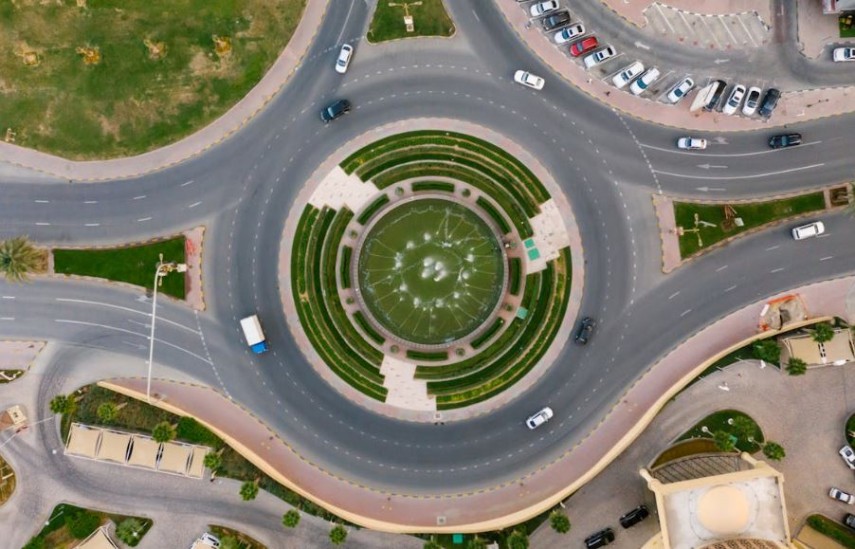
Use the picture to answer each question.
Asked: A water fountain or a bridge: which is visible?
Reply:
water fountain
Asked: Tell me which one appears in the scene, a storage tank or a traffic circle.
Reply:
traffic circle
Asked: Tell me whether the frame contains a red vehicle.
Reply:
Yes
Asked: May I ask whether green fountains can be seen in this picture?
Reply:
Yes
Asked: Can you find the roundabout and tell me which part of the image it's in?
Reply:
center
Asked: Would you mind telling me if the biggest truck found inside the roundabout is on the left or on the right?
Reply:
left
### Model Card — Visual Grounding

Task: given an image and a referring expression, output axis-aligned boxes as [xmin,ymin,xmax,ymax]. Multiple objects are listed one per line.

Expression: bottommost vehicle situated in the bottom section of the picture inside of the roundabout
[524,406,554,431]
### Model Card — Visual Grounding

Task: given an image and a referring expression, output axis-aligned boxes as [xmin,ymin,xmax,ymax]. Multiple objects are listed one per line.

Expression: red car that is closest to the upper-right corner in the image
[568,35,600,58]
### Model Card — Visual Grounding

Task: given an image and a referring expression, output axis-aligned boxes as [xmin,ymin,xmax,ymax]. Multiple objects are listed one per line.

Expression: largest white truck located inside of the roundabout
[238,314,270,355]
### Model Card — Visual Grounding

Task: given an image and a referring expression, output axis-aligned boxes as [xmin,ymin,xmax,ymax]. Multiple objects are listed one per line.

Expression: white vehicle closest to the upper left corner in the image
[335,43,354,76]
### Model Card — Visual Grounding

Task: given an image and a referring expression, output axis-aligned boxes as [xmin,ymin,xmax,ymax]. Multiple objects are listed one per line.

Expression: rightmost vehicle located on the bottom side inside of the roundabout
[574,315,596,346]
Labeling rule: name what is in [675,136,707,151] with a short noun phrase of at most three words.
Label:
car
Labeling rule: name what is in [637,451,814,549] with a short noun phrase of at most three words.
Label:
building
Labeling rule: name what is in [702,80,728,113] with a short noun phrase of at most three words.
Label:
car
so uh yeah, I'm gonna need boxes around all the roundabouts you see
[205,44,657,496]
